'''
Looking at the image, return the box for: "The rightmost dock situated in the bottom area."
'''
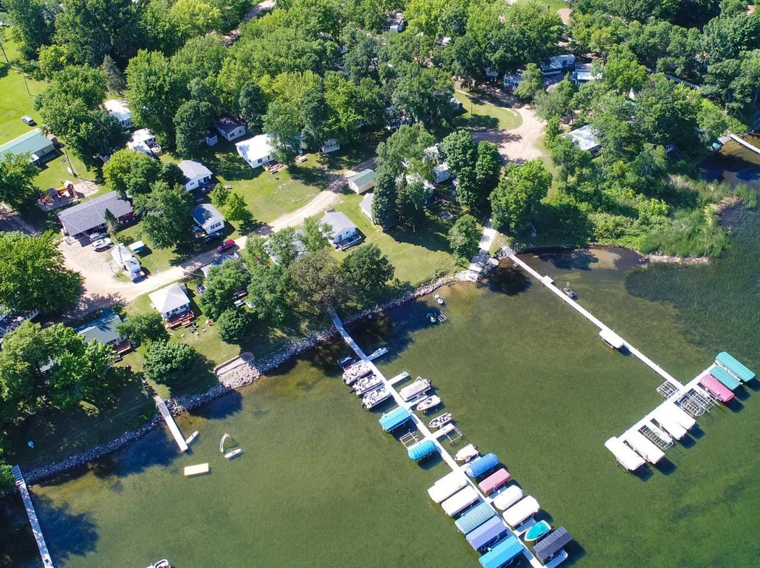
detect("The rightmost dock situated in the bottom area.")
[499,247,717,445]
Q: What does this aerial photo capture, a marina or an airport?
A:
marina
